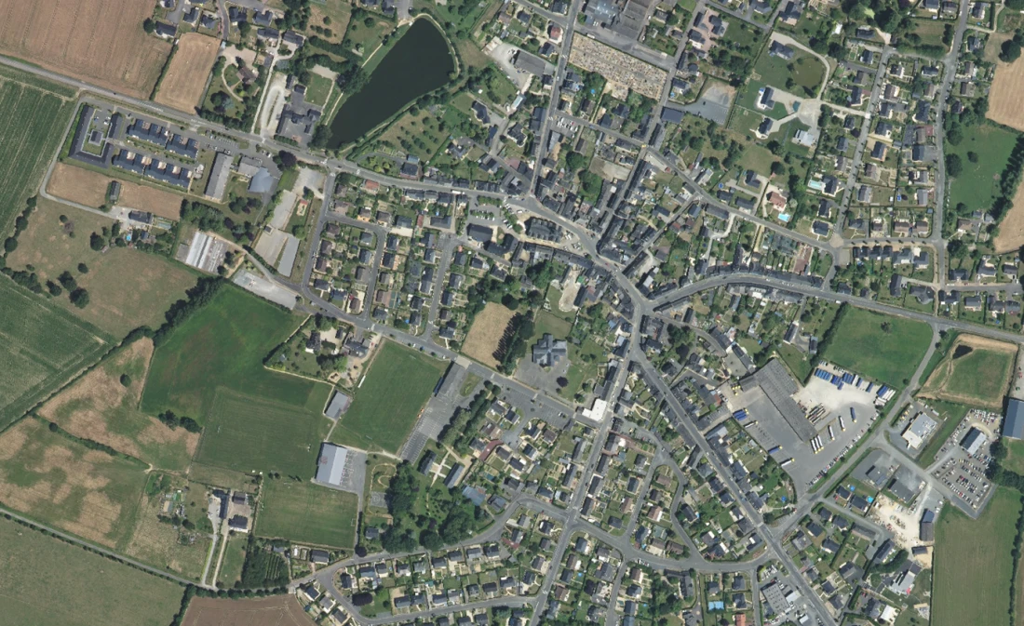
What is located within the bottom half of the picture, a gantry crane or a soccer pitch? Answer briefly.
soccer pitch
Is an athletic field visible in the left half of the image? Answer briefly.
Yes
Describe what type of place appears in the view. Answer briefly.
residential area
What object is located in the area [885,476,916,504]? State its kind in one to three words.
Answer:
house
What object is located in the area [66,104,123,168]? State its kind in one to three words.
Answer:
building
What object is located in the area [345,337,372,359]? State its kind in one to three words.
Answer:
house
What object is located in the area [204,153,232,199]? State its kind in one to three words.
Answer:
building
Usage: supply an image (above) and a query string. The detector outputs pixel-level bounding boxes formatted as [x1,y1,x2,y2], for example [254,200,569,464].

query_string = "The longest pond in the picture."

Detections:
[327,17,455,148]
